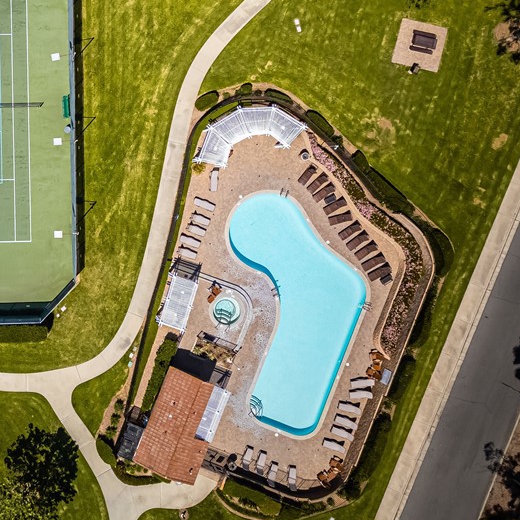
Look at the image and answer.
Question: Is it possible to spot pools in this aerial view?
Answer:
Yes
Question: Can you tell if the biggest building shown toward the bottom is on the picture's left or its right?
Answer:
left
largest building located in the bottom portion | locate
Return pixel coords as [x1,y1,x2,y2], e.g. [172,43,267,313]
[130,364,214,485]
